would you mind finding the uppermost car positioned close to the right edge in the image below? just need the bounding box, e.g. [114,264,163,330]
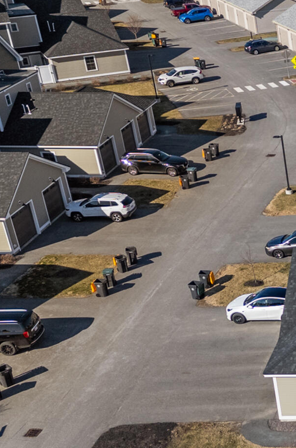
[238,33,285,55]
